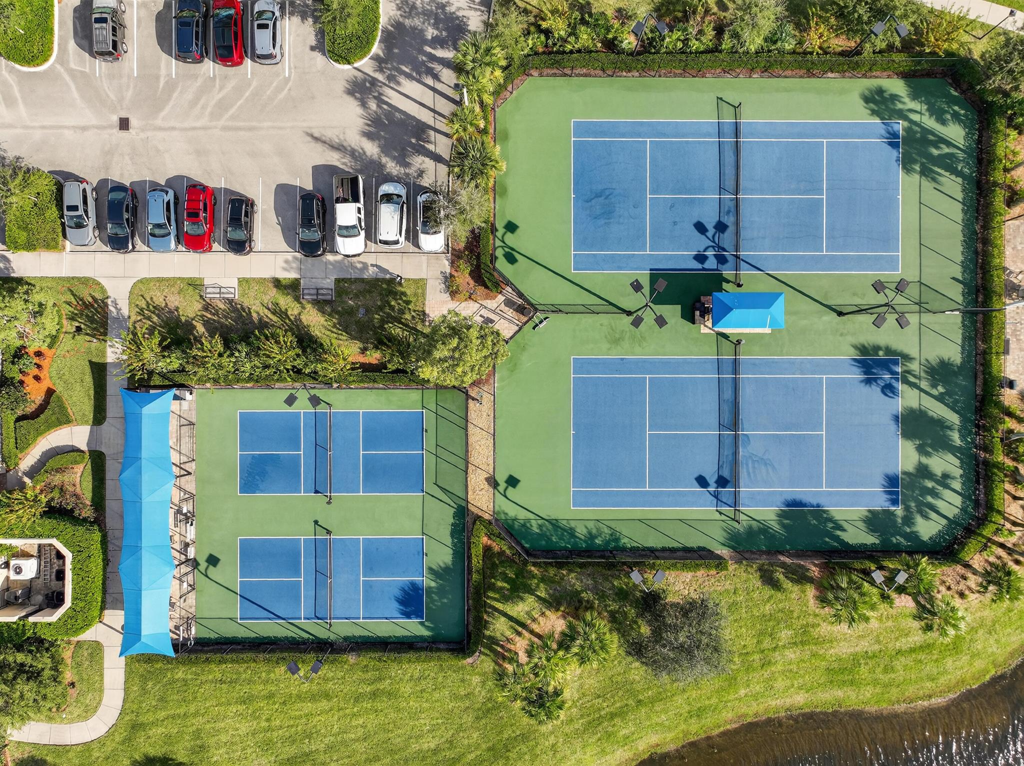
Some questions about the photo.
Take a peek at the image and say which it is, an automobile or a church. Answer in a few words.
automobile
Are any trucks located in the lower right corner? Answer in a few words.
No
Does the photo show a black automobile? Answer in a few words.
Yes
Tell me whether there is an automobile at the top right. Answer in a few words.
No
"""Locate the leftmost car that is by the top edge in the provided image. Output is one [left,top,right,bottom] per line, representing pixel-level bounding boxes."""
[92,0,129,66]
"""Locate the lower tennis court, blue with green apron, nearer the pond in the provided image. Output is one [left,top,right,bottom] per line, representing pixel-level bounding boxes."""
[495,313,976,550]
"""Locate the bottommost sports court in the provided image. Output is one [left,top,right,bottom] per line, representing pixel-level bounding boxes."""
[196,516,466,644]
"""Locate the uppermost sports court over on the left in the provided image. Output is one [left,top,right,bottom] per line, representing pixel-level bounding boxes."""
[196,389,466,516]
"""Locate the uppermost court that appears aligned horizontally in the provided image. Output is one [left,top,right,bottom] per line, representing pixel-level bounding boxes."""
[495,78,976,313]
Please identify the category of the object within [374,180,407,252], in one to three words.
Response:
car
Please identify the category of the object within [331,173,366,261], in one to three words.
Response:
truck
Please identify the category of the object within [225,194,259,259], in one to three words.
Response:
car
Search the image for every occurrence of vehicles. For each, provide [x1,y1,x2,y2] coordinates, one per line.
[182,183,218,255]
[331,173,366,261]
[251,0,285,68]
[415,188,447,256]
[61,177,99,248]
[104,183,141,256]
[225,194,259,259]
[374,180,407,252]
[211,0,247,70]
[92,0,129,66]
[174,0,210,67]
[145,185,181,255]
[294,191,327,261]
